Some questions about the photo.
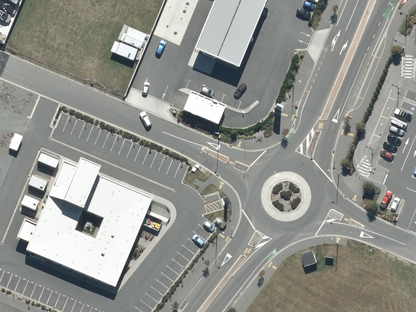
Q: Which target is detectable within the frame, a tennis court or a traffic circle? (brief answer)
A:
traffic circle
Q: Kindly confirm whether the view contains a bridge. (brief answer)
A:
No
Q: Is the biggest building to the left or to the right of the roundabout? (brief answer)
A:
to its left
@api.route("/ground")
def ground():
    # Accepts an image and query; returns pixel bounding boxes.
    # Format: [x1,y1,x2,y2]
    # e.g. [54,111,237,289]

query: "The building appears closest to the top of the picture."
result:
[118,25,149,50]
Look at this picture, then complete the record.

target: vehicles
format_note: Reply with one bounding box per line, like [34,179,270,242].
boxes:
[394,110,412,121]
[381,151,395,160]
[143,82,150,96]
[389,126,406,137]
[202,222,216,234]
[386,135,402,146]
[390,118,408,130]
[380,191,392,209]
[391,198,400,212]
[192,236,205,248]
[140,112,152,129]
[260,4,270,20]
[234,84,246,98]
[302,2,316,11]
[382,142,398,153]
[198,86,216,99]
[296,10,312,20]
[156,40,165,56]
